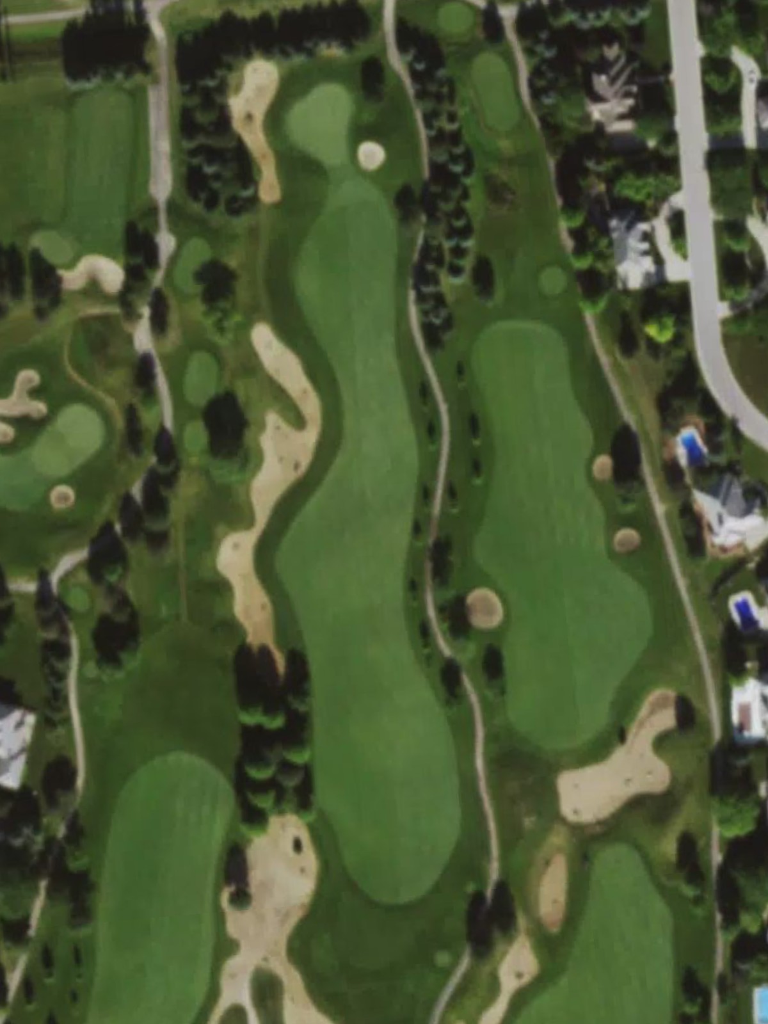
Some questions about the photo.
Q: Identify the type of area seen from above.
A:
golf course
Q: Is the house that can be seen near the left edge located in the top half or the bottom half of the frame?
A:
bottom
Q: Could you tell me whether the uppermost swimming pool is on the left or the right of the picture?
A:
right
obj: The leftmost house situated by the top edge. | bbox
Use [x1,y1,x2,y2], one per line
[589,39,644,119]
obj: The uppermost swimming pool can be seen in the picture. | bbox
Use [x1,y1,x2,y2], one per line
[675,425,709,470]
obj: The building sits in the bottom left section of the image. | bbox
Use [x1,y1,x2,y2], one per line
[0,706,38,789]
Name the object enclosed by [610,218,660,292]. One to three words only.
house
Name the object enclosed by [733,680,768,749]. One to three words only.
house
